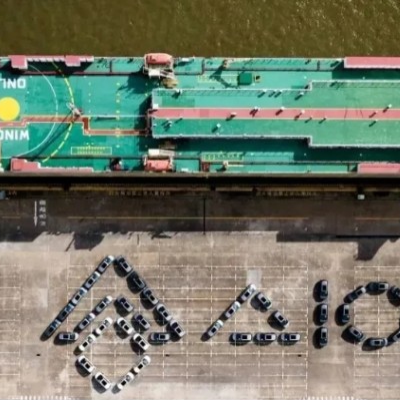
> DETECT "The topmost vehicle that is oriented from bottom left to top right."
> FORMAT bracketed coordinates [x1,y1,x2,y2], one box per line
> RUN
[95,255,113,274]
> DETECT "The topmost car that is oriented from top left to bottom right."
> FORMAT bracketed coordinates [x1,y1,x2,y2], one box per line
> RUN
[117,255,135,274]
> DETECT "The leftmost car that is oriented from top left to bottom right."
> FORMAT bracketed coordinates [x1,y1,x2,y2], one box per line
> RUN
[78,355,97,374]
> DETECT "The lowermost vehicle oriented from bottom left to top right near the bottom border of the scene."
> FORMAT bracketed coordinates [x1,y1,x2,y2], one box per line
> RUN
[115,373,134,391]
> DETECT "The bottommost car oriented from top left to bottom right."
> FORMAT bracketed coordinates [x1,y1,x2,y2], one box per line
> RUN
[95,372,113,391]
